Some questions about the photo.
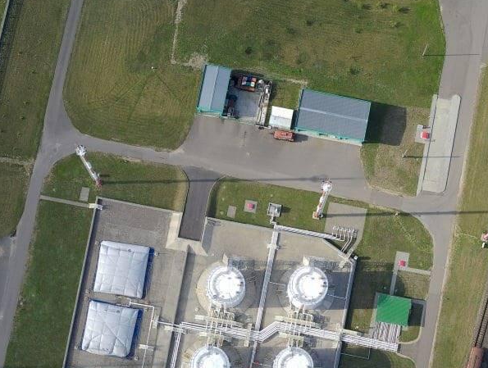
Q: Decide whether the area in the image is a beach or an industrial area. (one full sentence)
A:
This looks like an industrial area.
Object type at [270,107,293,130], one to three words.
shed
